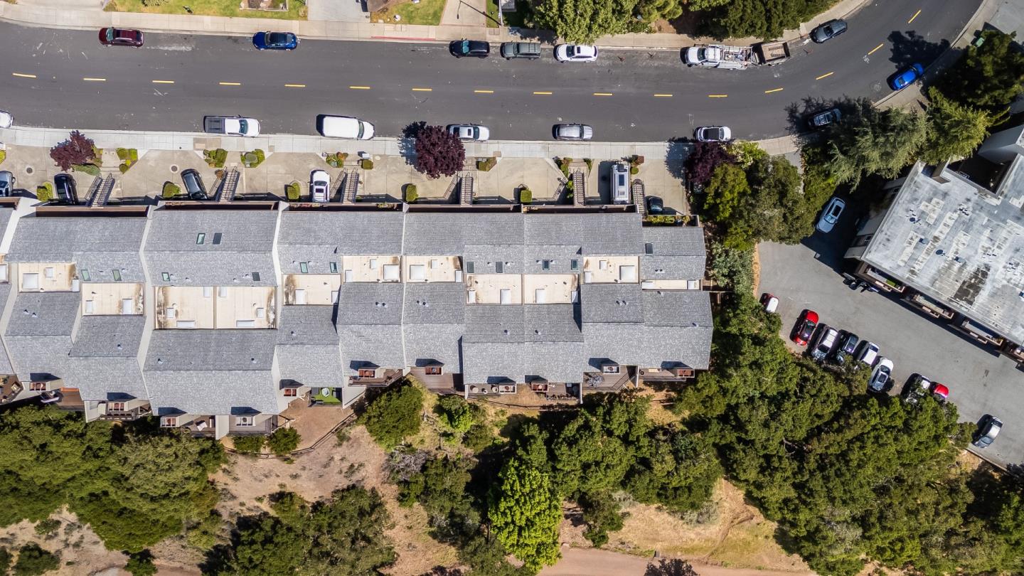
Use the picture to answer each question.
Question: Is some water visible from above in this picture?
No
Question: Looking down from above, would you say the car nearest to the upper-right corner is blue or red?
blue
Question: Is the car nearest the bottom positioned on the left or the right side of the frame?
right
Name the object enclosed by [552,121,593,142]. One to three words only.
car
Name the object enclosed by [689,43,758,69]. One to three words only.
truck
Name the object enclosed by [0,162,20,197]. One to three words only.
car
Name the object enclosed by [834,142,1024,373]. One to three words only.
building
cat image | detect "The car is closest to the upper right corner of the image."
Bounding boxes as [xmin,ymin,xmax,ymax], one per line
[885,62,925,92]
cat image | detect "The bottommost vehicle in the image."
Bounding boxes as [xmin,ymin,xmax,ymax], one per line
[971,411,1003,450]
